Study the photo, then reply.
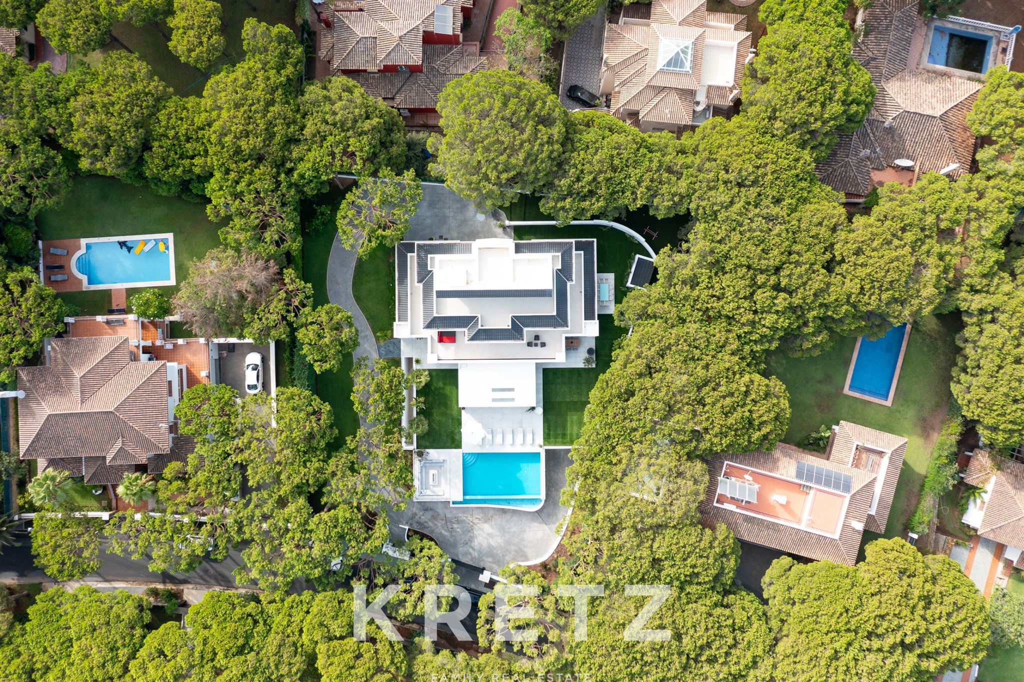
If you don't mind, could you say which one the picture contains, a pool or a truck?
pool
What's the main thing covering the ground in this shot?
trees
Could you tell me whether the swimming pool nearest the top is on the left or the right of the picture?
right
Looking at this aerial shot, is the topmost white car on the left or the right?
left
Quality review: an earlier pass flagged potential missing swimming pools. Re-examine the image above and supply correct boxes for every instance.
[71,233,175,290]
[463,451,545,499]
[450,499,545,512]
[919,22,1001,77]
[843,309,913,407]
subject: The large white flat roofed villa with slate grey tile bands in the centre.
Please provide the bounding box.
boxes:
[394,238,599,407]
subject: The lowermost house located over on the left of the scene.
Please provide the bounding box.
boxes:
[1,335,208,485]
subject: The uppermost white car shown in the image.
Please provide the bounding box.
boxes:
[242,352,264,393]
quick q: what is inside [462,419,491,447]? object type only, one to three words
umbrella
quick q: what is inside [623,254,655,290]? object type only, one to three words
shed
